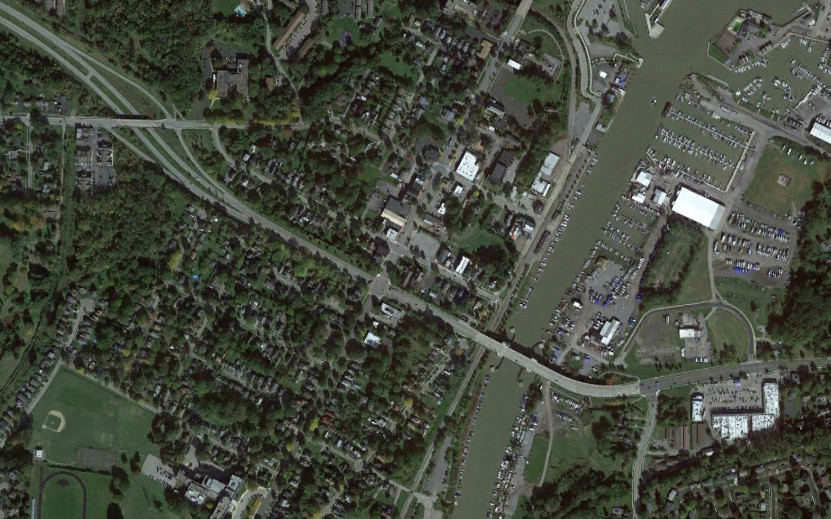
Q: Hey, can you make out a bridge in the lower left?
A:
No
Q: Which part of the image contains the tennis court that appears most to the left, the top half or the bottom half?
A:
bottom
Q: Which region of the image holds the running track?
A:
bottom left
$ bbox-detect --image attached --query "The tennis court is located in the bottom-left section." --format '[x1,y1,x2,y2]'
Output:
[77,448,116,471]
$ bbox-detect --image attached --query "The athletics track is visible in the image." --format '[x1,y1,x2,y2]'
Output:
[40,465,85,519]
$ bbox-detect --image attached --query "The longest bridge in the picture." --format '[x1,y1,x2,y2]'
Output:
[454,312,641,394]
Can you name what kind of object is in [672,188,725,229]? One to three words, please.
building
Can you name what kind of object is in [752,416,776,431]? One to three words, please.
building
